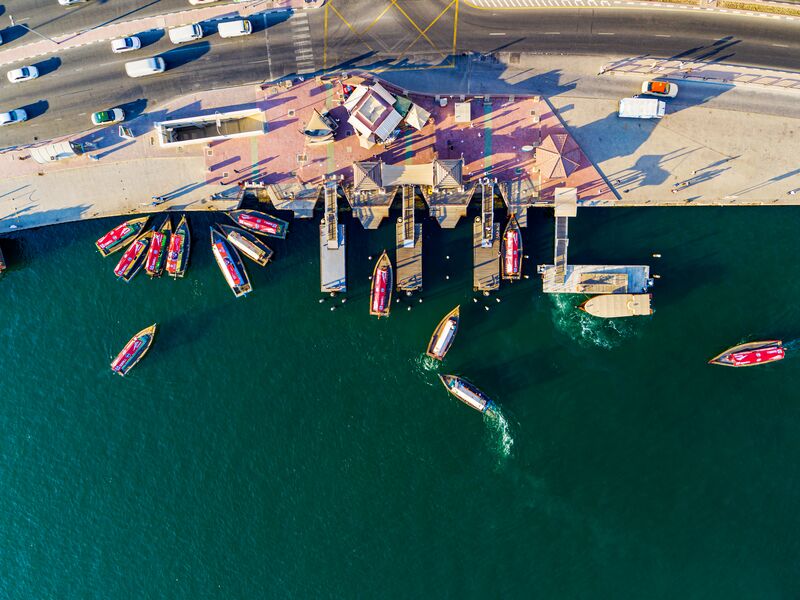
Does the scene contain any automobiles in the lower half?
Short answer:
No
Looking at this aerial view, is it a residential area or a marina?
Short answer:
marina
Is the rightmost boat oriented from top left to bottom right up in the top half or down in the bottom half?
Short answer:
bottom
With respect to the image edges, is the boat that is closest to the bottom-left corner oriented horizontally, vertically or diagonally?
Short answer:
diagonally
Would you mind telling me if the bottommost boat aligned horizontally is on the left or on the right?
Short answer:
right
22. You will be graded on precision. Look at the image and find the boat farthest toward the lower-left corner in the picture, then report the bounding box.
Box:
[111,323,159,377]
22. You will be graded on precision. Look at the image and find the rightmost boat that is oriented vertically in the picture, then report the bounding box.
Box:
[502,207,521,281]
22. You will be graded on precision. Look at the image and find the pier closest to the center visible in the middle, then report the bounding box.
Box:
[395,223,423,294]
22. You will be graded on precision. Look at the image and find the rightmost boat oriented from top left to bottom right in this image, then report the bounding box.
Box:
[438,373,493,413]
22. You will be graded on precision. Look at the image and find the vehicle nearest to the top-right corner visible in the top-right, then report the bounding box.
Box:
[641,80,677,96]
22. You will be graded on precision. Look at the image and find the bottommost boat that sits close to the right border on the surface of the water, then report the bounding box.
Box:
[704,342,786,366]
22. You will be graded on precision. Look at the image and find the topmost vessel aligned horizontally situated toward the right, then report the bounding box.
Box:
[577,294,652,316]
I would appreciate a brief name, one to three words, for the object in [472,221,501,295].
pier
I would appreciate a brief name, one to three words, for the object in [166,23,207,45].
vehicle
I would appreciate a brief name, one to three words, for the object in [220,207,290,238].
boat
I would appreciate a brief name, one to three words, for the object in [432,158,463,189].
building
